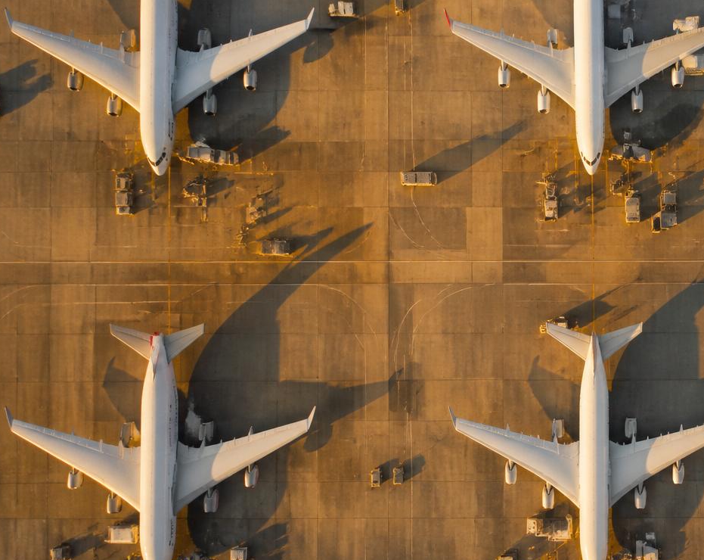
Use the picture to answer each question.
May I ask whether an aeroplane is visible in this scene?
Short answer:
Yes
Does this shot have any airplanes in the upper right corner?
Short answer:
Yes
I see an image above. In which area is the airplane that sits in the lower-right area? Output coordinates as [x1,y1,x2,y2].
[448,325,704,560]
